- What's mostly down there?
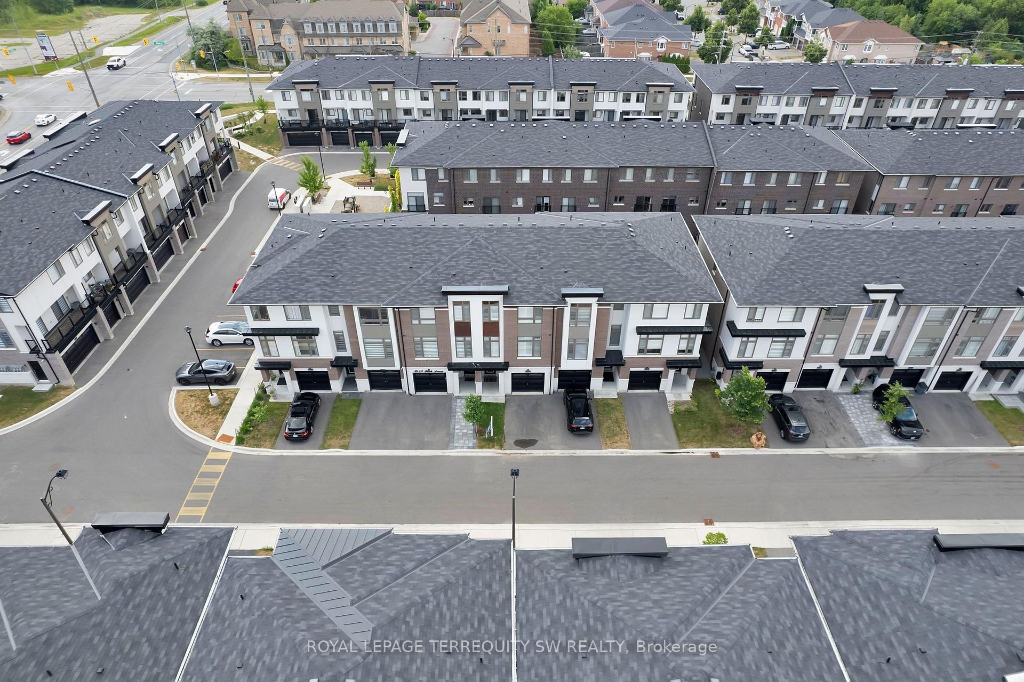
buildings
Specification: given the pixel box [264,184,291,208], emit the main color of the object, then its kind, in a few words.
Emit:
white vehicle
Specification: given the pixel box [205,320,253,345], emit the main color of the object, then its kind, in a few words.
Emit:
white car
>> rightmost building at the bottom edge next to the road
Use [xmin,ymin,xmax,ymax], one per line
[789,528,1024,682]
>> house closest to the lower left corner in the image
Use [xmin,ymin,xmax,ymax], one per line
[0,512,238,682]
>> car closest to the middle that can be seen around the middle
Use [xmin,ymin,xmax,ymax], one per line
[565,386,593,431]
